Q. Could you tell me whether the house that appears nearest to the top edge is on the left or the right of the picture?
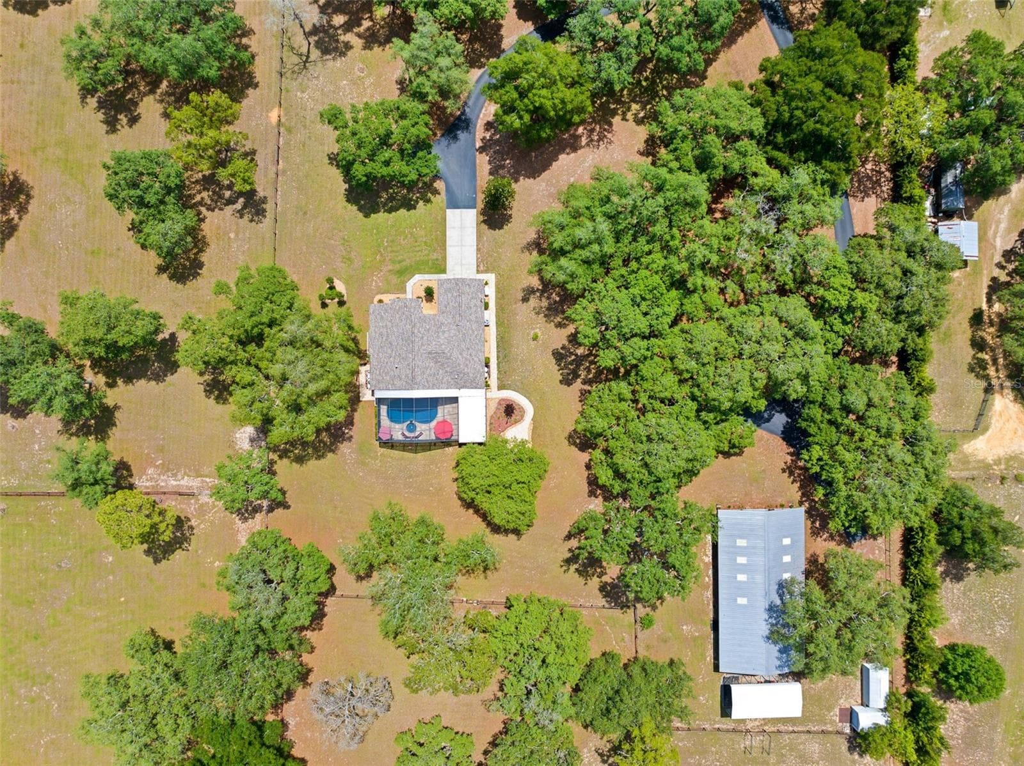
right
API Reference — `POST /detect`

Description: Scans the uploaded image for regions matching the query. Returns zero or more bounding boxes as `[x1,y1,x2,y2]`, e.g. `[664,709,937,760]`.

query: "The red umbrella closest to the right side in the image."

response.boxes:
[433,419,453,439]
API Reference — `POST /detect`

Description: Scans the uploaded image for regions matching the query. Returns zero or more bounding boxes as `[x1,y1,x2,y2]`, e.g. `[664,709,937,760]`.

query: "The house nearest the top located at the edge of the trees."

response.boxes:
[930,158,966,219]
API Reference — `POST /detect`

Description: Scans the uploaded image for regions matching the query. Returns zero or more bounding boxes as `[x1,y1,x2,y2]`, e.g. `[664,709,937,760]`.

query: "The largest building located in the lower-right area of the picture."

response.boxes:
[712,508,806,675]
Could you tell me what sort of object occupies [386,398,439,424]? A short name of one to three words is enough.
swimming pool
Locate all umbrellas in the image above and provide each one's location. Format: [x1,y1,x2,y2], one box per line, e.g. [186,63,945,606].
[378,422,392,437]
[433,419,453,439]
